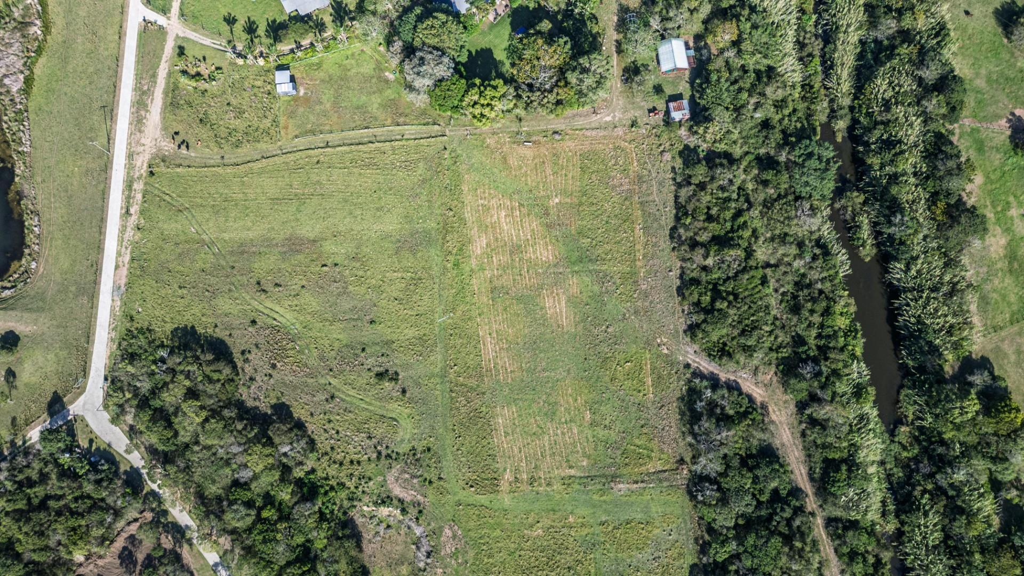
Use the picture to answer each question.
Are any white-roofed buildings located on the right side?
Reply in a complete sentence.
Yes, the scene does show a white-roofed building on the right side.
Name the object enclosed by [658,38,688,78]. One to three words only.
building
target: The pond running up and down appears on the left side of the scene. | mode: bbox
[0,140,24,277]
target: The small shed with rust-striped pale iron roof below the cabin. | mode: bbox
[668,100,690,123]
